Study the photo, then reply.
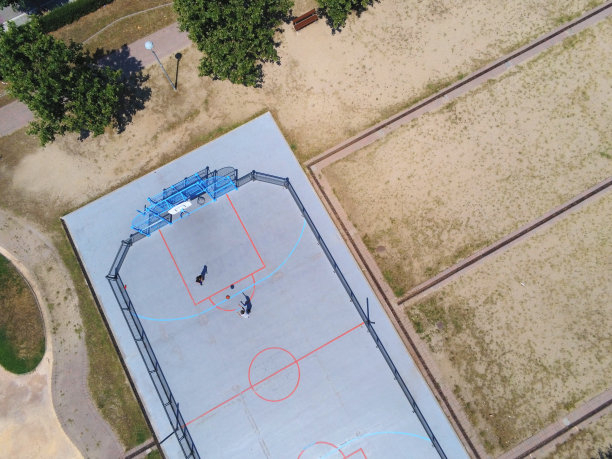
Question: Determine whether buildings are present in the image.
No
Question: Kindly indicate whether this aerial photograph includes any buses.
No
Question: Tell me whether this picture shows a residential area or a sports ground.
sports ground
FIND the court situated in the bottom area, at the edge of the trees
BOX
[63,111,470,459]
